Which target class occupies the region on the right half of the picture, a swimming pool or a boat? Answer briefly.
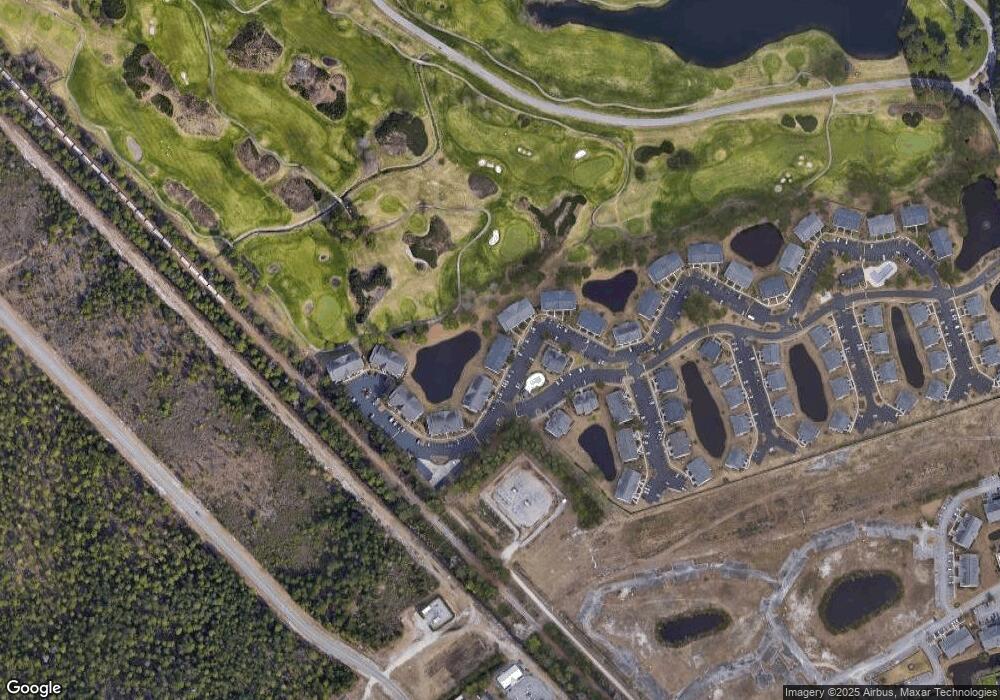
swimming pool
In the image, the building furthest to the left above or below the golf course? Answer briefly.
below it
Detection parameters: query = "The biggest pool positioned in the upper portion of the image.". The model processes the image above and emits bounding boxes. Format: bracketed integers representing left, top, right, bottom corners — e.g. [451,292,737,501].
[863,260,897,288]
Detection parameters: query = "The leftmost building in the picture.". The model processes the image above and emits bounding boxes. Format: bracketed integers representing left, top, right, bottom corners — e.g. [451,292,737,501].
[326,350,365,384]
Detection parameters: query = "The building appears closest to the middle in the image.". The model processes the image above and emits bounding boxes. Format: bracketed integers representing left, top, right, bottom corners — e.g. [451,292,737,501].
[484,333,519,373]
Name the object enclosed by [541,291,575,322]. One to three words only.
building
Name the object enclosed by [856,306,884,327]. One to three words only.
building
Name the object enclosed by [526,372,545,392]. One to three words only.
swimming pool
